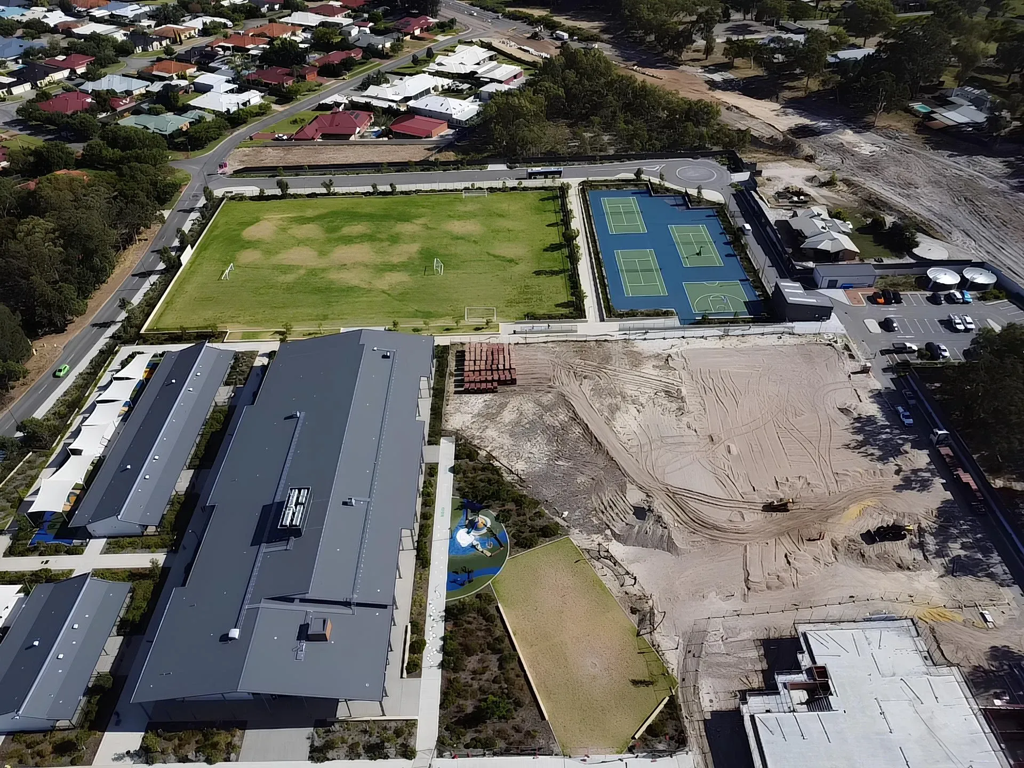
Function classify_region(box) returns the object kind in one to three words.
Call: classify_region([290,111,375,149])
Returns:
house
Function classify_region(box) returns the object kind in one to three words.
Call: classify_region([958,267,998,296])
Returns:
water tank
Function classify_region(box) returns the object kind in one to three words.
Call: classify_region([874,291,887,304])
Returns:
vehicle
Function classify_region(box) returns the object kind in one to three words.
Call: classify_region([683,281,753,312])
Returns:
basketball court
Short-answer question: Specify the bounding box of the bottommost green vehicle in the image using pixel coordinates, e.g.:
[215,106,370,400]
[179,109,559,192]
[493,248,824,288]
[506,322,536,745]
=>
[52,364,70,377]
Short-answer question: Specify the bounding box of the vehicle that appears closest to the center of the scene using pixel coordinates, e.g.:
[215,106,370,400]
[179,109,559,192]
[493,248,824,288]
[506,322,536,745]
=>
[527,165,562,178]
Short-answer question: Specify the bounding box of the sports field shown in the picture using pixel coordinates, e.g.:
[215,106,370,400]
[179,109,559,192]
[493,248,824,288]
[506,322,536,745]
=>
[146,189,584,331]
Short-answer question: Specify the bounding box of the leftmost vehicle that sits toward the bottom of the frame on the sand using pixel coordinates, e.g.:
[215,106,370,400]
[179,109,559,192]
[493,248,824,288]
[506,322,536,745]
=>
[761,495,793,517]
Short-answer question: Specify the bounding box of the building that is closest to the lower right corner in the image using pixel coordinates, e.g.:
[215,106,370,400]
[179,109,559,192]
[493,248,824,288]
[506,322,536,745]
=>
[742,612,1023,768]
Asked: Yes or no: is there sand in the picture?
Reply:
Yes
